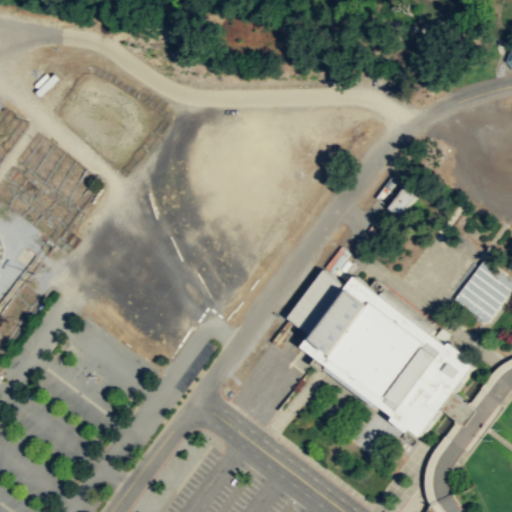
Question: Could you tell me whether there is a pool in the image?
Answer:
No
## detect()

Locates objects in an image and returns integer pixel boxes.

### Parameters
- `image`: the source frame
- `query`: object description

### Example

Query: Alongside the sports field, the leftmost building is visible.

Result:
[300,276,474,438]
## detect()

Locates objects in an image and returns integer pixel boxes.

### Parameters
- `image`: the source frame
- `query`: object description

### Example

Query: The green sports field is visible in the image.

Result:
[466,406,512,512]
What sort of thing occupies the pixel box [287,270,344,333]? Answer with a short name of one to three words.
shed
